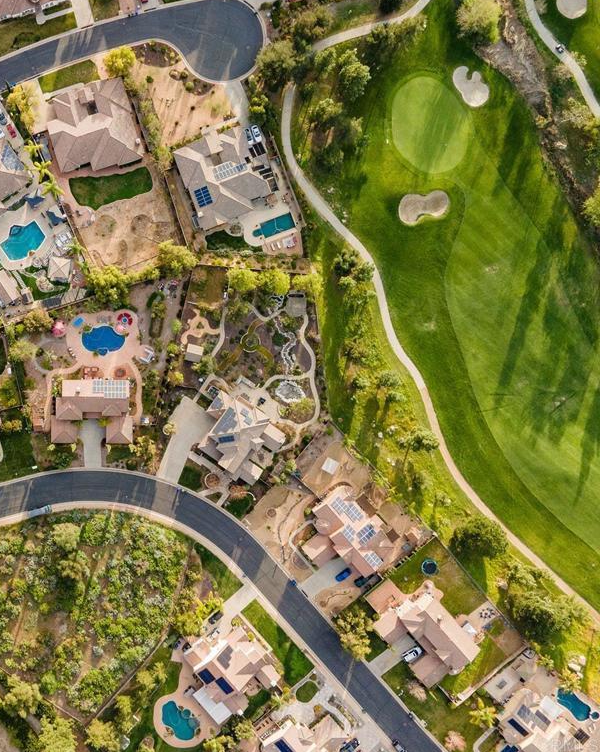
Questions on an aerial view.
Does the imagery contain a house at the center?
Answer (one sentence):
Yes, there is a house at the center.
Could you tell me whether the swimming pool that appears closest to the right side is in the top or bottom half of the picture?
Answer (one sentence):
The swimming pool that appears closest to the right side sits in the bottom half of the picture.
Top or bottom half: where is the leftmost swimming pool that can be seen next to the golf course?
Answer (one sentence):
The top half of the photo is where the leftmost swimming pool that can be seen next to the golf course is.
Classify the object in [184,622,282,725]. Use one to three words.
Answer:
house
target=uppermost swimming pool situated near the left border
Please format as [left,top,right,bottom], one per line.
[0,219,47,261]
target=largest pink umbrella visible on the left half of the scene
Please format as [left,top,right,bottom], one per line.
[50,320,64,333]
